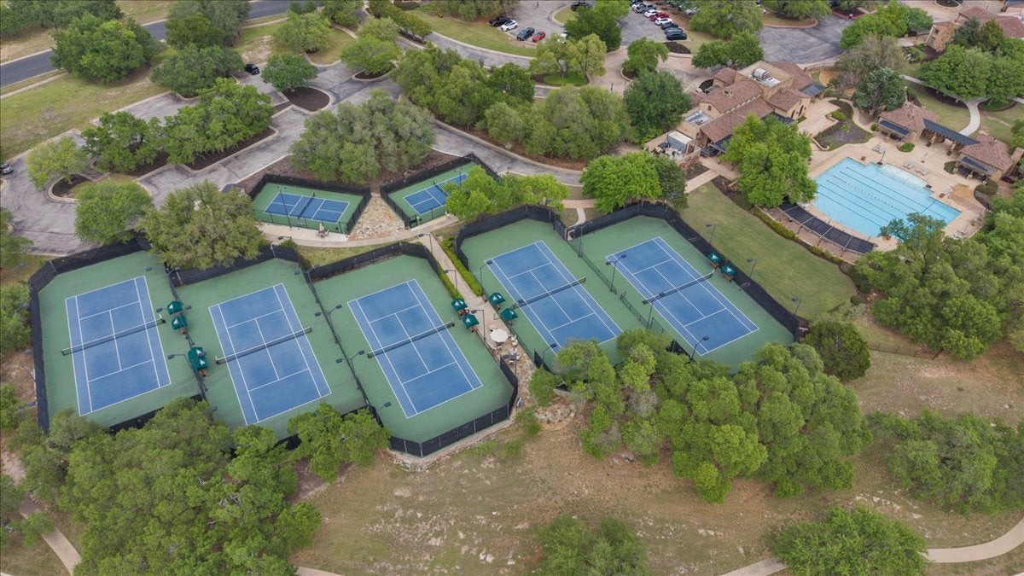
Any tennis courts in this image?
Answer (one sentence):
Yes, you can see a tennis court in this photo.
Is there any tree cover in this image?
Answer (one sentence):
Yes, there's tree cover in this view.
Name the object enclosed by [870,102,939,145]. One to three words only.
building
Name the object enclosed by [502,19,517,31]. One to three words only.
vehicle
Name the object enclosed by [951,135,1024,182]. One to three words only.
building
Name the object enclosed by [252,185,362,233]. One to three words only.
sports court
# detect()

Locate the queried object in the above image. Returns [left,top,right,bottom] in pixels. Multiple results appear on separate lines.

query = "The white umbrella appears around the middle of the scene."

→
[489,329,508,346]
